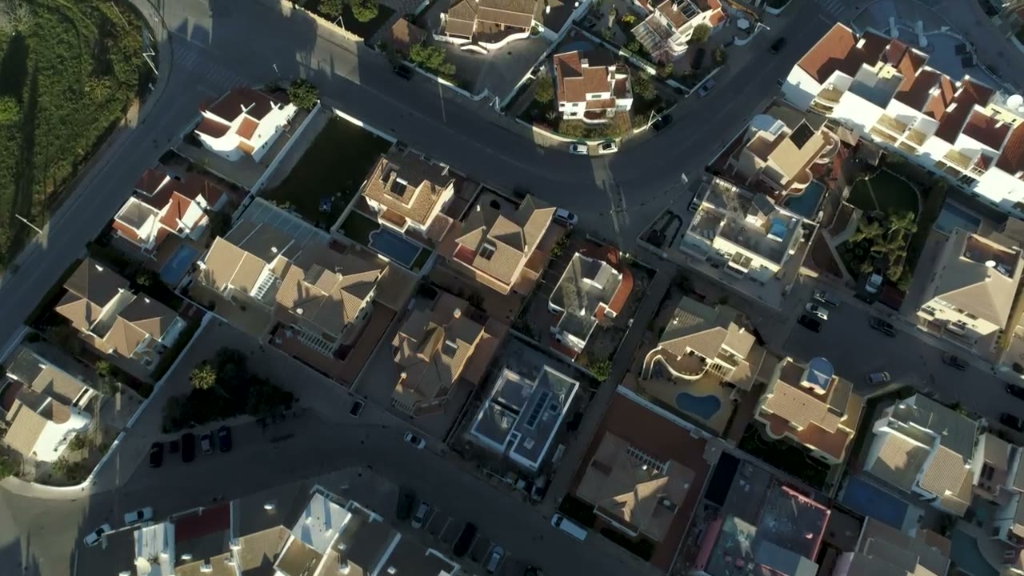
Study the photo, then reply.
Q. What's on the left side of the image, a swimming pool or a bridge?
swimming pool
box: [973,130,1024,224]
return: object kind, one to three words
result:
house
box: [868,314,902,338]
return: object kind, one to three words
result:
truck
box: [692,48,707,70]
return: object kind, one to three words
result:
car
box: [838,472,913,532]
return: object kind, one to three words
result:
swimming pool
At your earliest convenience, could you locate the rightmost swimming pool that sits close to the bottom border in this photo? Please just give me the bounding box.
[949,527,991,576]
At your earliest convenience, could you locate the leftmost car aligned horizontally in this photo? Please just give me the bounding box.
[121,507,153,525]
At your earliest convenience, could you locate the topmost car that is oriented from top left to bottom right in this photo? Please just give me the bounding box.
[392,62,416,80]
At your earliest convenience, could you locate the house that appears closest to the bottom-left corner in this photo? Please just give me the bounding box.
[84,538,142,576]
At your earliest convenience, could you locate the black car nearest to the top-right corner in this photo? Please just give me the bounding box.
[769,35,788,55]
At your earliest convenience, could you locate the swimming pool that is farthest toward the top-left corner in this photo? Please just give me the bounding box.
[157,245,202,286]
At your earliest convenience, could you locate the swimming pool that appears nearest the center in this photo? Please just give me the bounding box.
[367,224,425,270]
